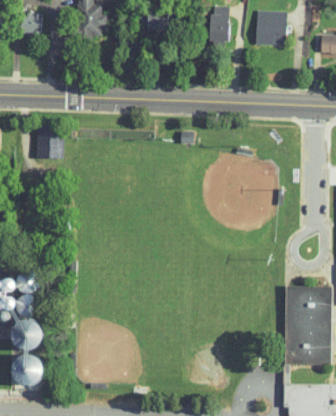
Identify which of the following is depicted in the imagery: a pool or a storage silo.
storage silo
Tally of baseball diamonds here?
two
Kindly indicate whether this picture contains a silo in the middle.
No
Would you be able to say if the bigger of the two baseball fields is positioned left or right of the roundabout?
on its left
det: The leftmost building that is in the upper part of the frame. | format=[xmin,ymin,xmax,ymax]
[22,8,44,34]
